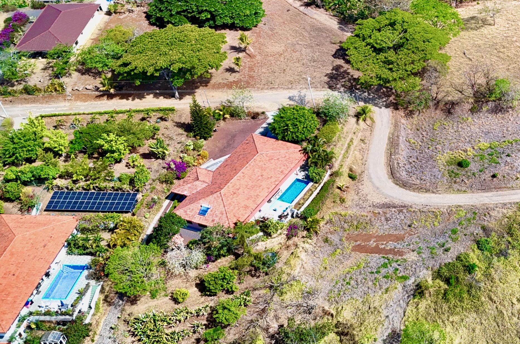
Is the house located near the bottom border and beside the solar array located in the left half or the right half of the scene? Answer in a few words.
left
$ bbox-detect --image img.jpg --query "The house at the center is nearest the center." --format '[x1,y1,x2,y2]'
[162,136,306,232]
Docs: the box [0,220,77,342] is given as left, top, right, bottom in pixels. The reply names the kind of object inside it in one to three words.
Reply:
house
